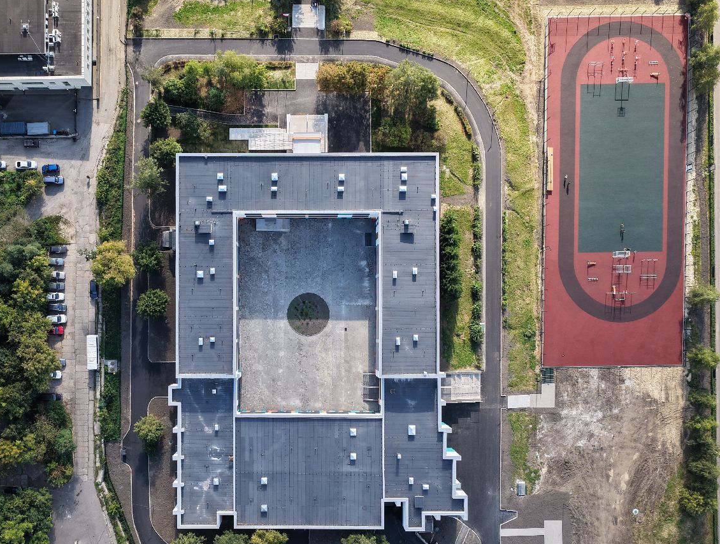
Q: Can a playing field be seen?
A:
Yes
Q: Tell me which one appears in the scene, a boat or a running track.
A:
running track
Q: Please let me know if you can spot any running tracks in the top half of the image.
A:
Yes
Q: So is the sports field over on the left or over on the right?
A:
right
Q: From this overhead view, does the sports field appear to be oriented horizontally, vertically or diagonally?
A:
vertically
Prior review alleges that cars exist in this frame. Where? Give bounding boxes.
[15,159,37,170]
[46,327,67,335]
[48,244,70,254]
[0,160,7,169]
[47,304,69,312]
[46,281,67,291]
[54,358,68,366]
[48,256,67,266]
[41,162,61,173]
[47,292,68,301]
[43,176,65,185]
[89,281,99,299]
[47,314,68,324]
[49,270,68,280]
[43,370,63,378]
